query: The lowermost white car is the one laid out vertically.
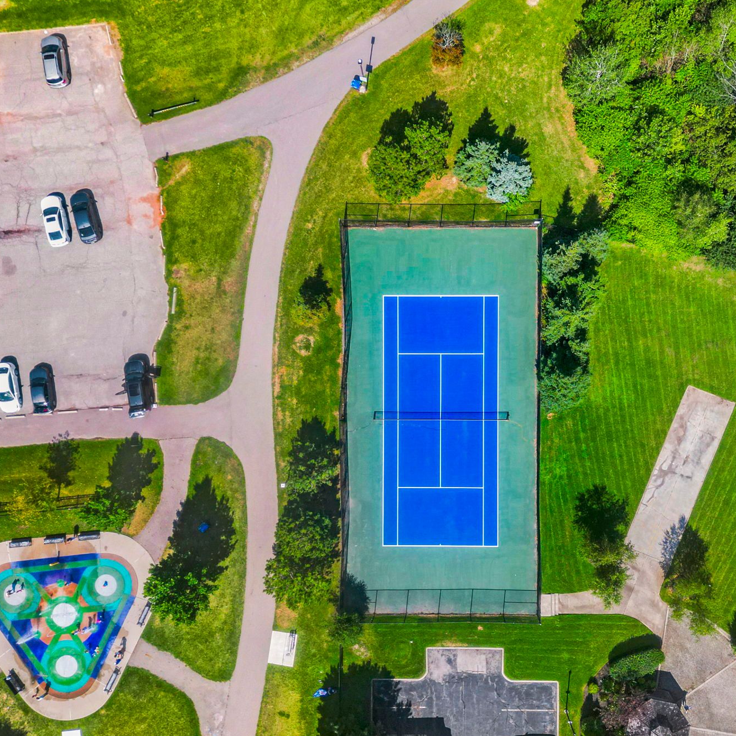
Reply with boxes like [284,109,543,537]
[0,362,28,413]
